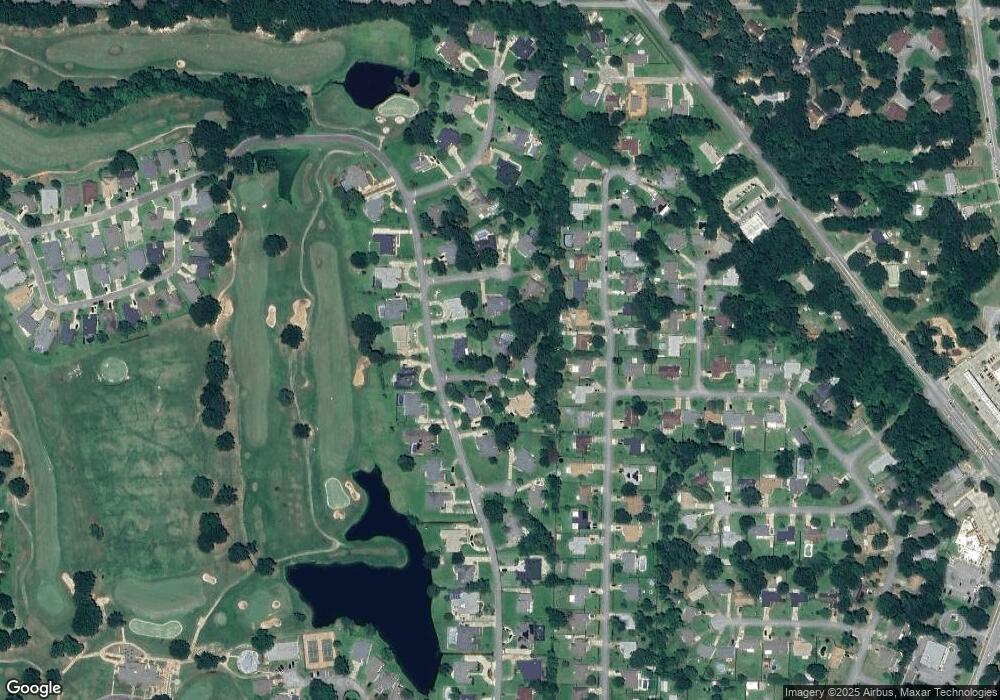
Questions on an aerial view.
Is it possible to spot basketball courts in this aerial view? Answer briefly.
No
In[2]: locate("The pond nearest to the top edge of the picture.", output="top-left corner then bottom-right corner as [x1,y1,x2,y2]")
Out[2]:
[345,62,404,109]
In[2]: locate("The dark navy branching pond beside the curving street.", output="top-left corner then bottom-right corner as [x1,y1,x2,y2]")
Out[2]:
[286,463,441,694]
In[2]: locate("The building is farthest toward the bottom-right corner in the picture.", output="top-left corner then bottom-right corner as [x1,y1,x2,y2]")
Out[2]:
[919,640,948,672]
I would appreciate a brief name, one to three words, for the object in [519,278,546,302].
house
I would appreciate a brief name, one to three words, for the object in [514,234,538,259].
house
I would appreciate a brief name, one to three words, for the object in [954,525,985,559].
building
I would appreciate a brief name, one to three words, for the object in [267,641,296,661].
building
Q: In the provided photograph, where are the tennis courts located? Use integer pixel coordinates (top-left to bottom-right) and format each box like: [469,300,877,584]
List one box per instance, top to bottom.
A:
[307,638,319,664]
[320,638,333,662]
